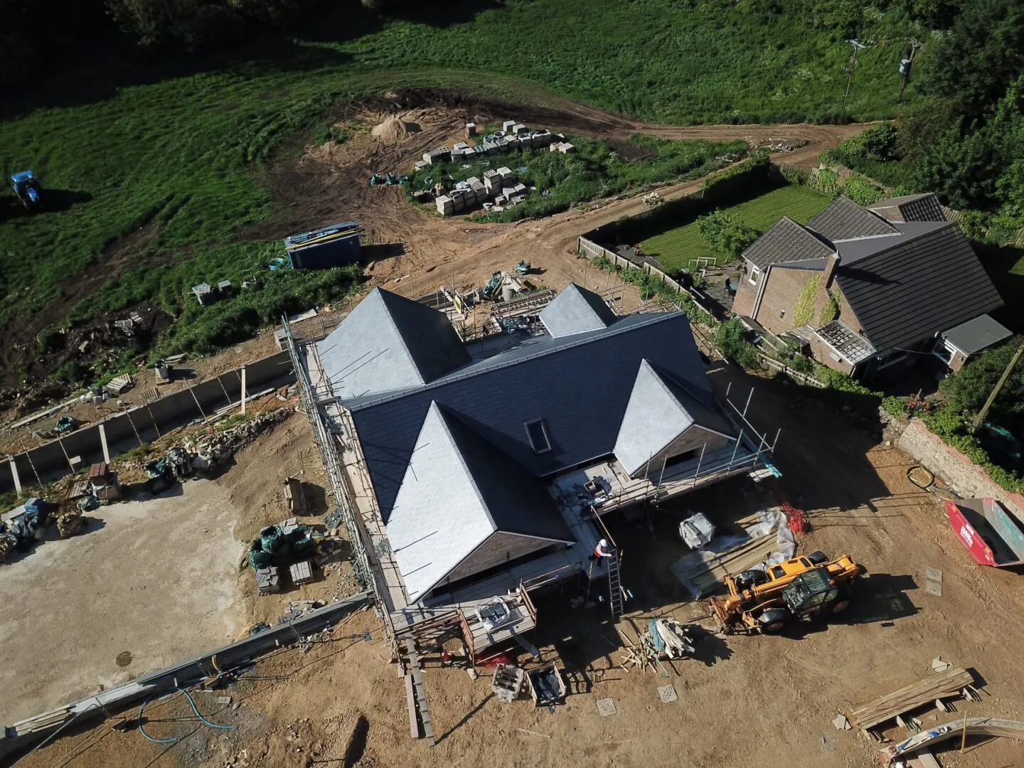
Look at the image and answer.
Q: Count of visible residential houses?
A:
2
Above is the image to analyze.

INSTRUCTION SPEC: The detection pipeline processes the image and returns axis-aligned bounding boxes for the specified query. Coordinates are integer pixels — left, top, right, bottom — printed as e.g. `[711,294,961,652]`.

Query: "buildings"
[737,193,1014,411]
[317,281,739,626]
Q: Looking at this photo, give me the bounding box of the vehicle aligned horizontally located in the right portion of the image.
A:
[694,556,866,641]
